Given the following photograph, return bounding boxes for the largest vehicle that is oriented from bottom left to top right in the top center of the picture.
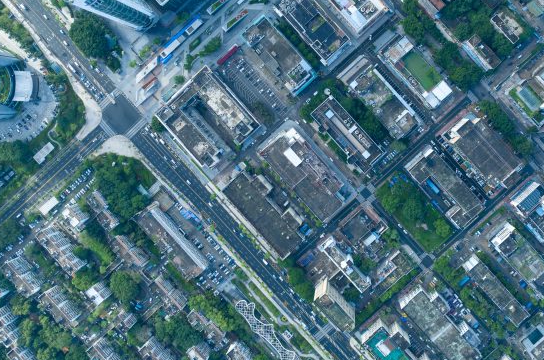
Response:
[218,46,238,64]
